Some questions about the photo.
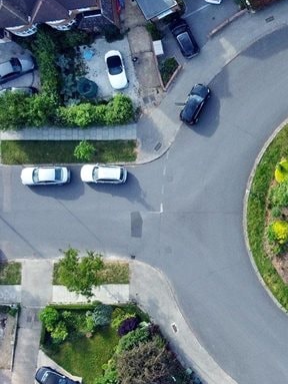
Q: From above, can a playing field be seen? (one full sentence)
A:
No, I find no playing field anywhere in the image.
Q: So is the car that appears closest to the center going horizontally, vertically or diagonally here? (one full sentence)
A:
The car that appears closest to the center is oriented horizontally.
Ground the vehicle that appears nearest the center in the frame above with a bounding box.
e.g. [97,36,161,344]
[83,162,129,186]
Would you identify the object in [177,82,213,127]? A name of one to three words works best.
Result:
car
